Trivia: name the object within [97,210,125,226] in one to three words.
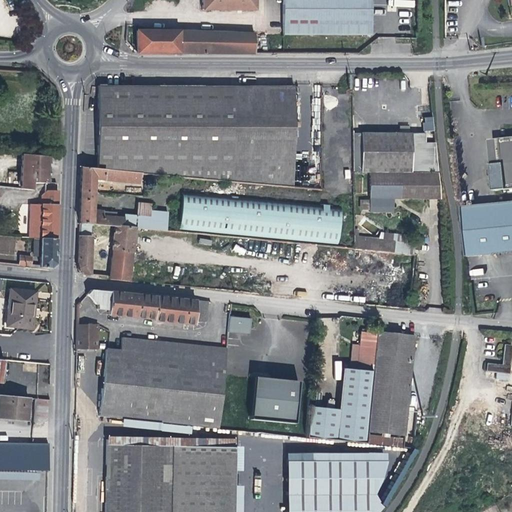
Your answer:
shed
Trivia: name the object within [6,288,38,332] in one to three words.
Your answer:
house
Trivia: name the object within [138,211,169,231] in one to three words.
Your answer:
building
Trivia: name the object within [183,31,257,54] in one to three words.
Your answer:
house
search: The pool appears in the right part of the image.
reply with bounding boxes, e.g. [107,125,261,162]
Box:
[358,217,384,233]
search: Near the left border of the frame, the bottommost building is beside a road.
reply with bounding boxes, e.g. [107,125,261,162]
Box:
[0,441,50,480]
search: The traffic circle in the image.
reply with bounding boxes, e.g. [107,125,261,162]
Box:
[42,22,96,76]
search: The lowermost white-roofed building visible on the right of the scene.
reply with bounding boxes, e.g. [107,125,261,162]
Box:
[288,452,388,512]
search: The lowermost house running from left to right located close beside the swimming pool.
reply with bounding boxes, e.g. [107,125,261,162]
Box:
[355,232,412,255]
